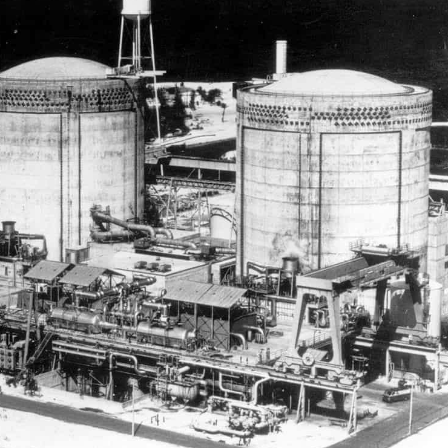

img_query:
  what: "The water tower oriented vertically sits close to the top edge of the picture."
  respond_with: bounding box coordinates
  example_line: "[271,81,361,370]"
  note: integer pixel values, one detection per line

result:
[117,0,160,143]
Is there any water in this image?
Yes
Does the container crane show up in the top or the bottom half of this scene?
bottom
